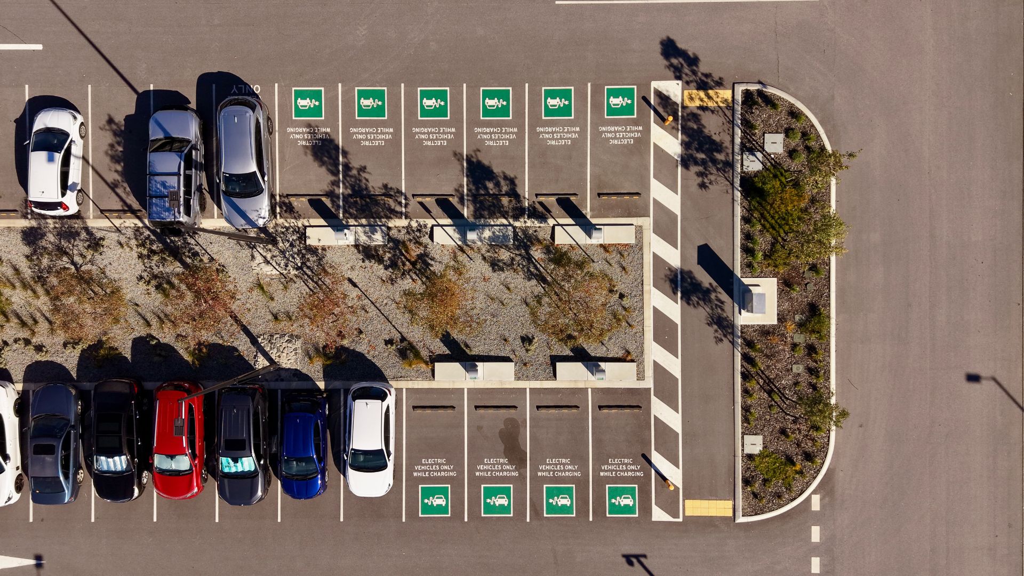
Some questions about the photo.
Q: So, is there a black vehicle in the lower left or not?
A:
Yes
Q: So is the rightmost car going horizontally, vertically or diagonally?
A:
vertically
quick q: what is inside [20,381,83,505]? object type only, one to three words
car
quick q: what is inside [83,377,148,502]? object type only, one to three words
car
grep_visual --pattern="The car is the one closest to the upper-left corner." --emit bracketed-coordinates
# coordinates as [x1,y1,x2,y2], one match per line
[23,107,86,216]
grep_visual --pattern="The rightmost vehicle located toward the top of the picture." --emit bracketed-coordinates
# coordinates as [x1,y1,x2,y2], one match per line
[216,100,275,229]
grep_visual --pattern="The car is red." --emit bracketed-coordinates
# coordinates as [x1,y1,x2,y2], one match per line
[144,378,207,499]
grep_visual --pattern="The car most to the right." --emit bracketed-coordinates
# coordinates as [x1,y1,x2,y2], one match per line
[342,380,397,496]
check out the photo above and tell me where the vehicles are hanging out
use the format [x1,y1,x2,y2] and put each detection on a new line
[216,100,275,229]
[144,378,207,499]
[83,377,148,502]
[210,380,271,505]
[142,105,206,232]
[0,381,24,505]
[342,380,397,496]
[23,107,86,216]
[273,393,328,498]
[20,381,83,505]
